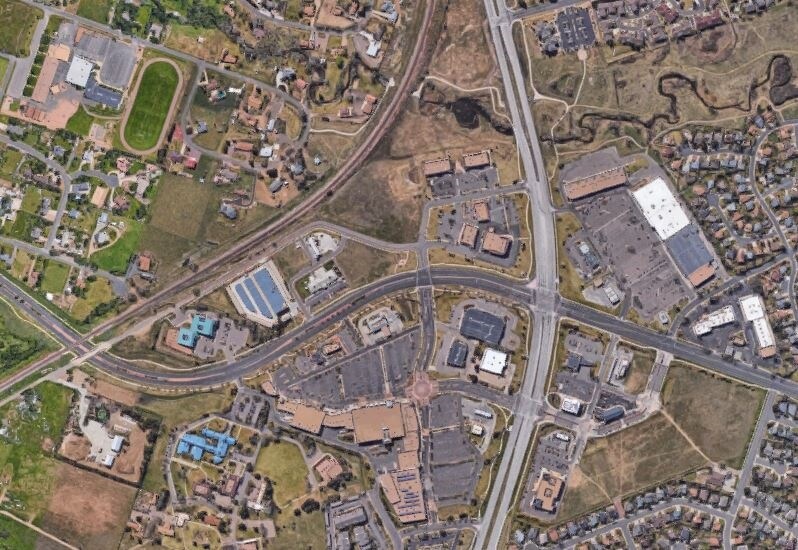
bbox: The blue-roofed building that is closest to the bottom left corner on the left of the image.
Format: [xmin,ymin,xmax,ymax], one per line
[175,428,235,464]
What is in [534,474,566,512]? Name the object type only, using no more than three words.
building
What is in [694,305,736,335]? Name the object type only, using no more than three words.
building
